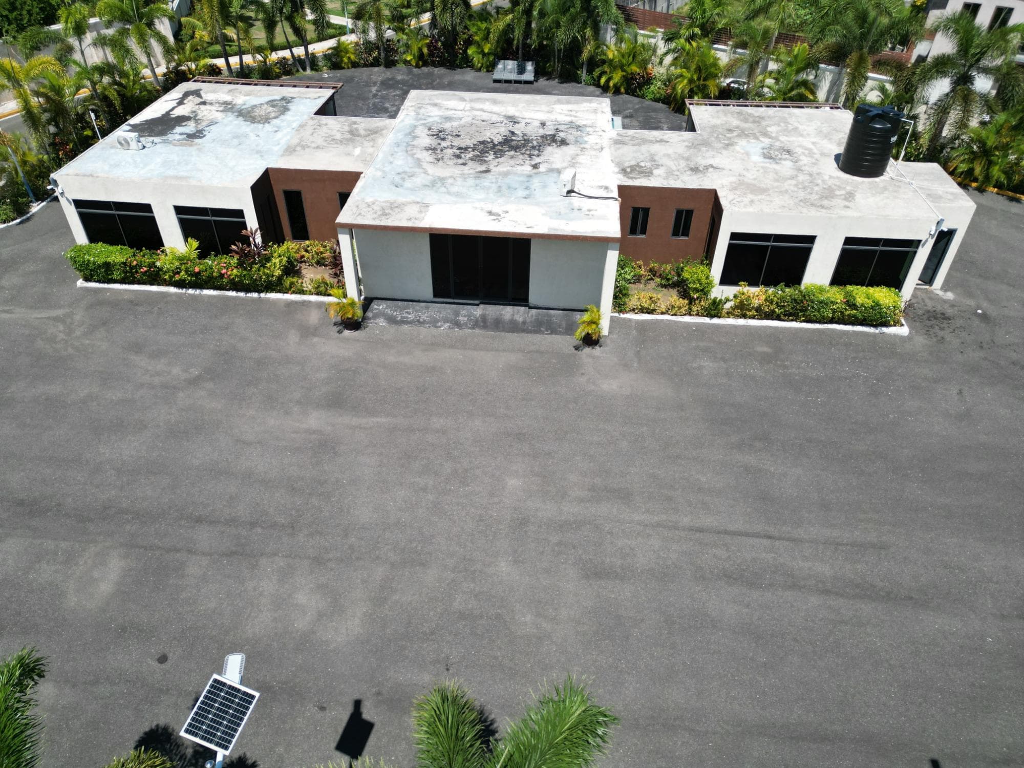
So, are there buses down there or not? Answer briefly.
No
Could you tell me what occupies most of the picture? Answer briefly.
paved ground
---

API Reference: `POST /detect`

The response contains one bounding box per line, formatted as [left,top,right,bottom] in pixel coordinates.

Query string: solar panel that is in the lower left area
[180,674,260,755]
